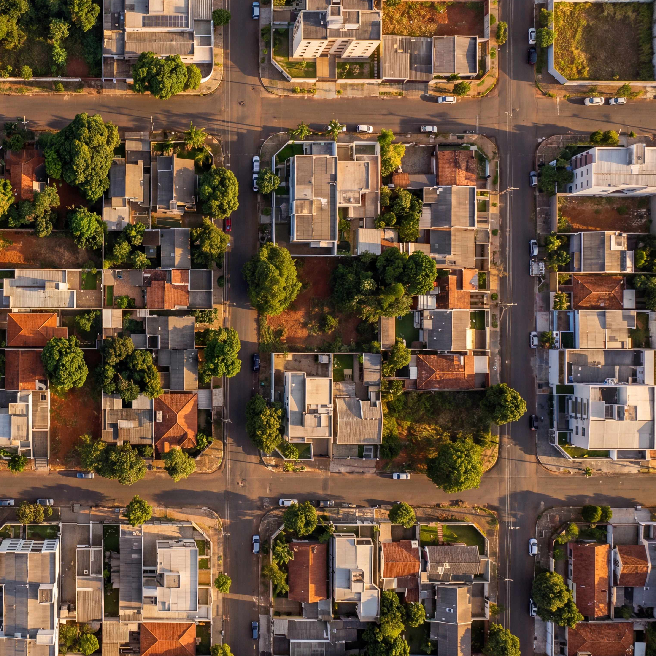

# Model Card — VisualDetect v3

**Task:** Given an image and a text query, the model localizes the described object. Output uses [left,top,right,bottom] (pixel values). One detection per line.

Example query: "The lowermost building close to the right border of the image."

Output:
[562,620,646,656]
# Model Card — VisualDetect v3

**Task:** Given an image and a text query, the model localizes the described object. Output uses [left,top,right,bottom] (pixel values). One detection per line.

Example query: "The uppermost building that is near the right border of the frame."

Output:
[576,144,656,192]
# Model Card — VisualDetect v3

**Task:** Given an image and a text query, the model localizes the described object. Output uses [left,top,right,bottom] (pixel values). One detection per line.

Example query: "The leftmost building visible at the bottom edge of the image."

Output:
[0,540,59,656]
